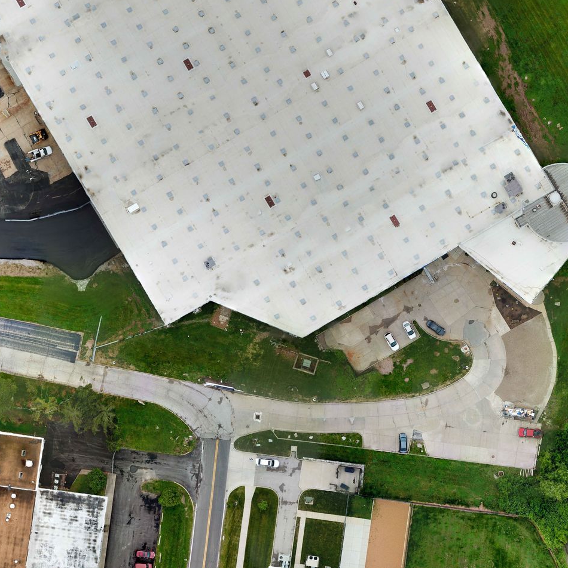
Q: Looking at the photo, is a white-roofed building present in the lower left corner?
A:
Yes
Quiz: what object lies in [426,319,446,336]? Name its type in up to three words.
car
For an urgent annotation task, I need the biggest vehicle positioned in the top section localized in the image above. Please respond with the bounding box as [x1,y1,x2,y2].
[25,147,54,161]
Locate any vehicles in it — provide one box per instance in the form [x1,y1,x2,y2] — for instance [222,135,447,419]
[384,333,400,353]
[518,428,542,438]
[399,434,408,454]
[25,147,54,161]
[426,319,446,336]
[137,550,155,559]
[27,130,46,145]
[257,459,279,468]
[402,322,417,342]
[132,562,156,568]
